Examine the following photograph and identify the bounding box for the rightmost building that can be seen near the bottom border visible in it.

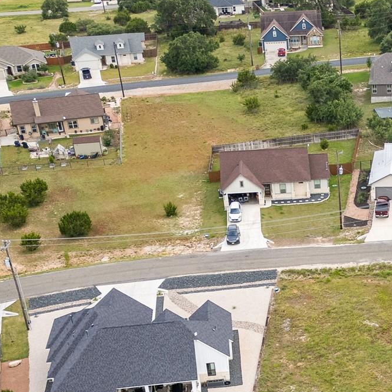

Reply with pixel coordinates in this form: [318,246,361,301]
[46,285,236,392]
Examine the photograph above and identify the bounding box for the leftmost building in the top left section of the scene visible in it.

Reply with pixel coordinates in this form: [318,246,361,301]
[0,43,49,78]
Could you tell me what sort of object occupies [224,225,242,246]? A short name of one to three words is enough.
car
